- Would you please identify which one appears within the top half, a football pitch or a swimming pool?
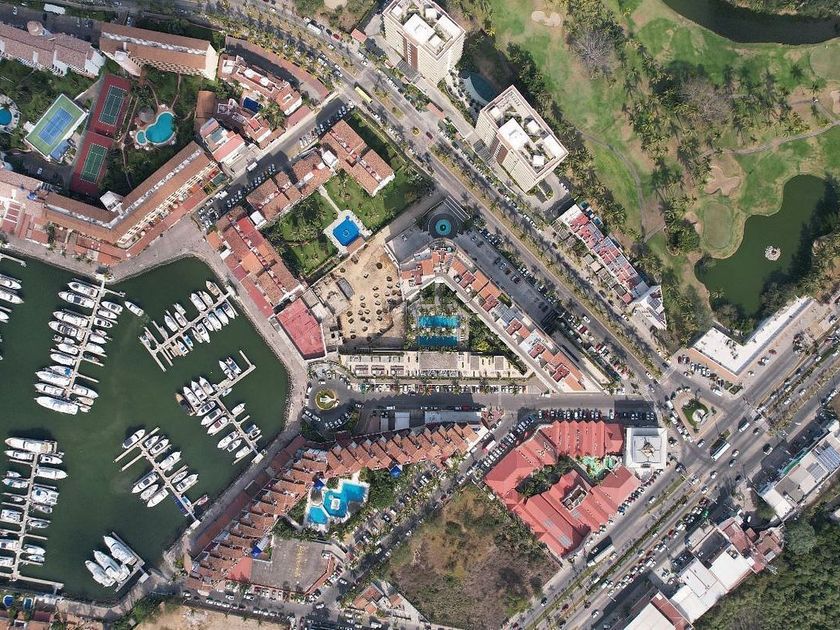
swimming pool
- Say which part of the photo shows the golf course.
top right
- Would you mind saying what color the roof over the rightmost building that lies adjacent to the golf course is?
white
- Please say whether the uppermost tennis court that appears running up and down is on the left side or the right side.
left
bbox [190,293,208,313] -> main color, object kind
white boat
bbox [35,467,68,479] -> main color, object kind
white boat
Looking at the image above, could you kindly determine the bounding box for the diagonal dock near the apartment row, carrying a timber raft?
[139,284,239,373]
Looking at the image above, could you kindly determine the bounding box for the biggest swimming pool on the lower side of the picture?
[305,479,371,531]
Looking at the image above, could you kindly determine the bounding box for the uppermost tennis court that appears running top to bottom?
[88,75,128,139]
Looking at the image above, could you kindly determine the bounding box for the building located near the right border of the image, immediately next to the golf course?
[686,296,816,379]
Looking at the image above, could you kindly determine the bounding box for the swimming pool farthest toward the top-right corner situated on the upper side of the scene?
[459,71,496,107]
